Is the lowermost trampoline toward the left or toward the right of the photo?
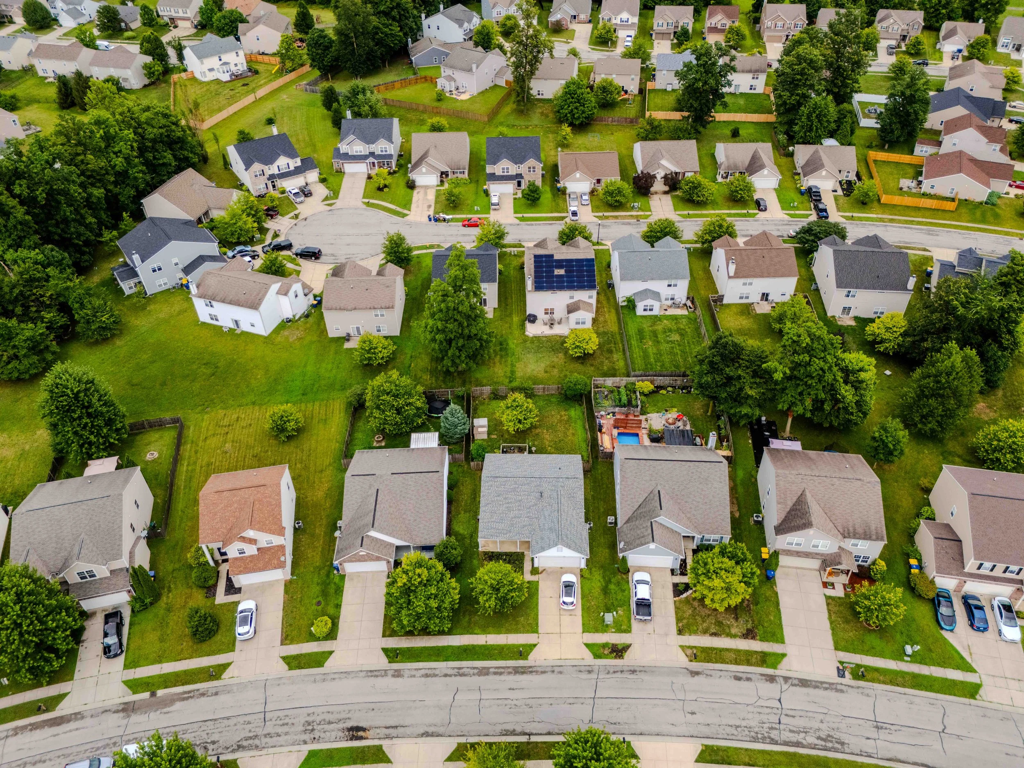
right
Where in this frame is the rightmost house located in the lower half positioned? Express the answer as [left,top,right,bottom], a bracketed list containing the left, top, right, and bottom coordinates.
[914,465,1024,613]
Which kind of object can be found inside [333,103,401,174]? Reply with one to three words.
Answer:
house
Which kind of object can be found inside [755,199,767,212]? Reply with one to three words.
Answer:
vehicle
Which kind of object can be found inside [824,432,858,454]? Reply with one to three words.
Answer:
trampoline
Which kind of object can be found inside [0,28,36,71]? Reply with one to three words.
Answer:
house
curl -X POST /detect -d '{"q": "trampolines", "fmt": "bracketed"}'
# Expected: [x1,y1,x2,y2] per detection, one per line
[423,389,452,422]
[824,432,858,454]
